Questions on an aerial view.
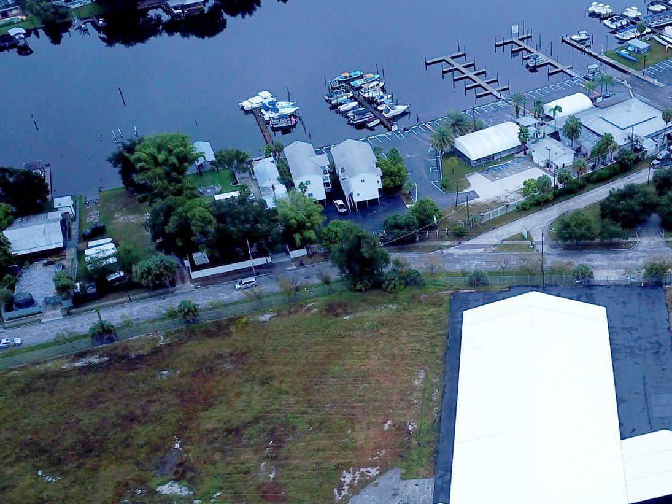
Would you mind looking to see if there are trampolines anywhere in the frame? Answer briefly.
Yes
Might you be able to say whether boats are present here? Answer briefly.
Yes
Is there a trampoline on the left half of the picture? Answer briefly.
Yes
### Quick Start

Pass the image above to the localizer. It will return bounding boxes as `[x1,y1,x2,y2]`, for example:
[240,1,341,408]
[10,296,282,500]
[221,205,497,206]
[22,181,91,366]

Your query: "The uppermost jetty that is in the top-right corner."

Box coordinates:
[585,0,672,45]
